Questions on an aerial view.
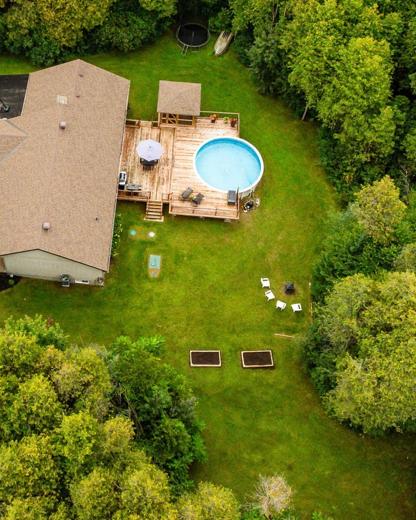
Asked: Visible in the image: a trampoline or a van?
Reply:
trampoline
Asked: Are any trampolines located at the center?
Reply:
No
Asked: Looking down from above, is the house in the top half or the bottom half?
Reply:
top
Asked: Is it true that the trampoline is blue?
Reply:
No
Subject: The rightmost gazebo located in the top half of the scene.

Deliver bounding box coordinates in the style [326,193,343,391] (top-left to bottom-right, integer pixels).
[157,81,202,127]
